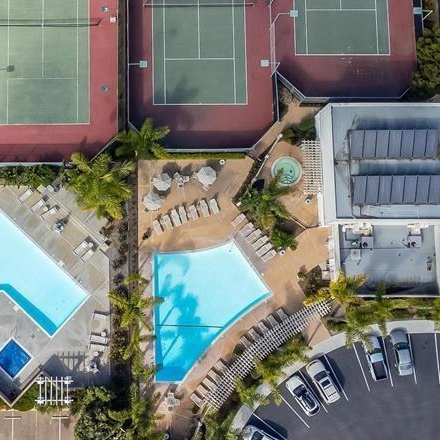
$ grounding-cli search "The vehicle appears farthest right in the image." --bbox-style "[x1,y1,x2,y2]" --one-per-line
[389,330,414,377]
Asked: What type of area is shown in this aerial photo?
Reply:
sports ground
